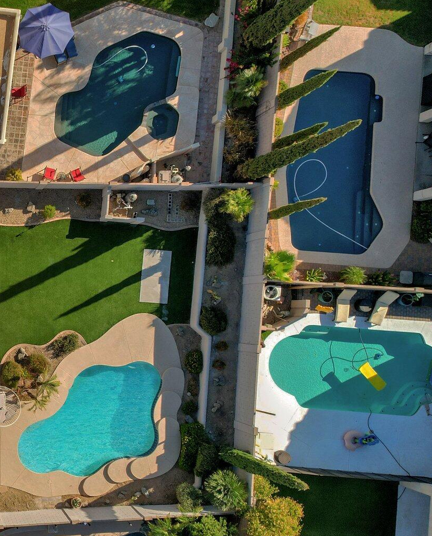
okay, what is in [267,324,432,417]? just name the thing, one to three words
swimming pool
